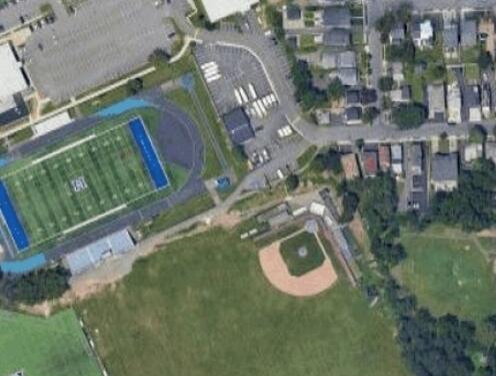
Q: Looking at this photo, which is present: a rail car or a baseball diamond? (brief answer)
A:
baseball diamond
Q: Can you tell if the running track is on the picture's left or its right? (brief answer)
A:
left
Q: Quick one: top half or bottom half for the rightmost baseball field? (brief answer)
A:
bottom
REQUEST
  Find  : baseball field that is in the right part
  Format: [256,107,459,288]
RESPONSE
[259,219,337,296]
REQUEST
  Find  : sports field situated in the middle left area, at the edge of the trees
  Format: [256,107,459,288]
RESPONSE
[0,117,171,254]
